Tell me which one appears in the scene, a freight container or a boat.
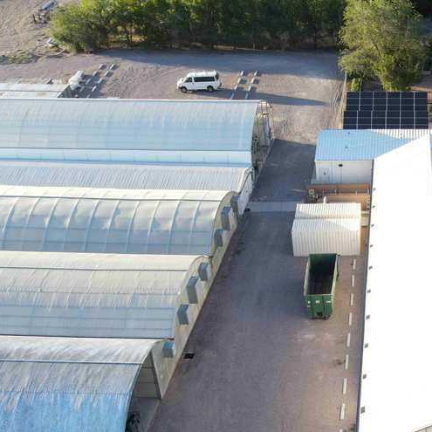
freight container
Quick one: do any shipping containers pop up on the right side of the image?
Yes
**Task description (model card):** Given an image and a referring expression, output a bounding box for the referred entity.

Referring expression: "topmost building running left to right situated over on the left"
[0,95,273,178]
